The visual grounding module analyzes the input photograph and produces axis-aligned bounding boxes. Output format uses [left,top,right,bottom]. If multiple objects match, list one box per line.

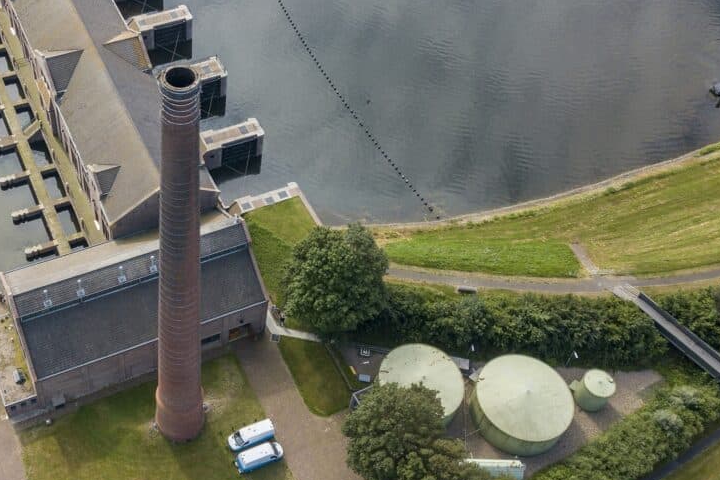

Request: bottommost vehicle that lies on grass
[237,439,284,470]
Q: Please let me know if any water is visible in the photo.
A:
Yes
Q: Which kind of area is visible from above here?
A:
industrial area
